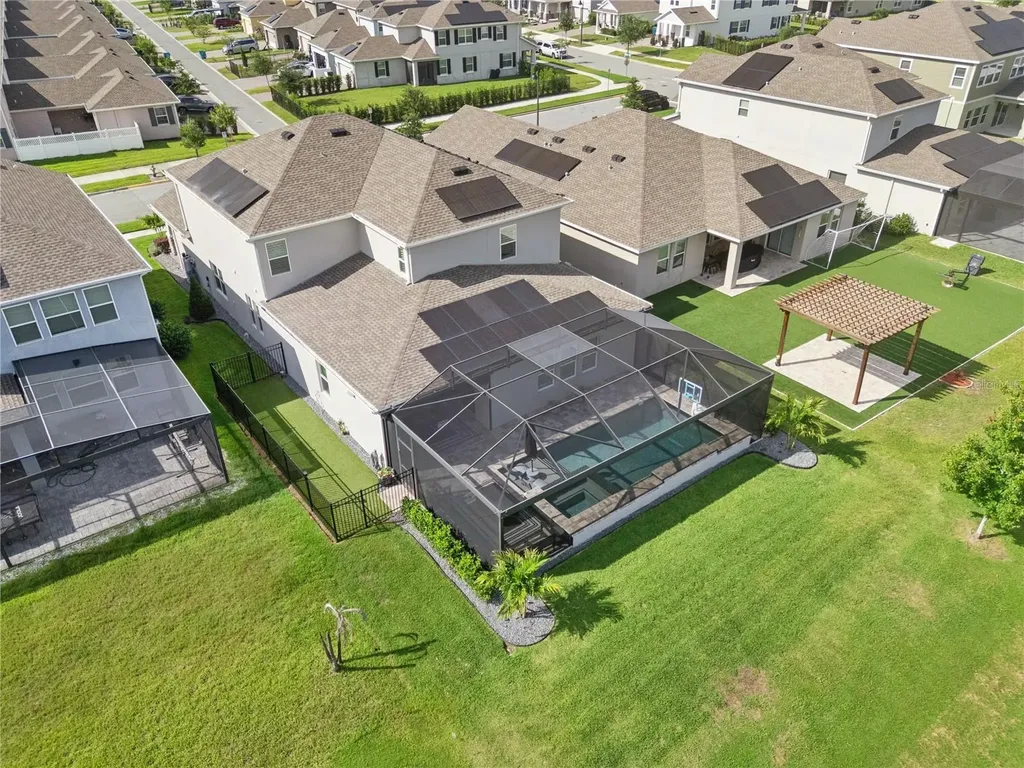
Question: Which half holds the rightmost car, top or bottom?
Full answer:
It is in the top half that the rightmost car appears.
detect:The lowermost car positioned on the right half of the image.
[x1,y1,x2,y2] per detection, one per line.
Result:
[636,89,675,110]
